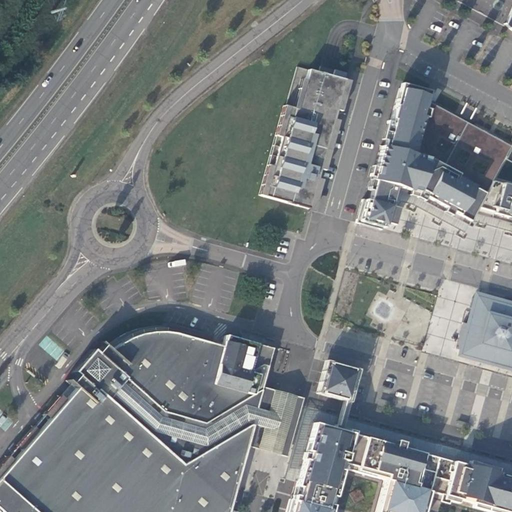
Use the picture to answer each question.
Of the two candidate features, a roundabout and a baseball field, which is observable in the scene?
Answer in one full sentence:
Of the two, only a roundabout appears.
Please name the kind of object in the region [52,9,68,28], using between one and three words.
pylon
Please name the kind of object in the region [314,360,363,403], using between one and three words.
building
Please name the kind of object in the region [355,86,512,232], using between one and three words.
building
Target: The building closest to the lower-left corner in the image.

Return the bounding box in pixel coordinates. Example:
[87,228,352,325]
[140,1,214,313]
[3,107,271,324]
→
[0,324,306,512]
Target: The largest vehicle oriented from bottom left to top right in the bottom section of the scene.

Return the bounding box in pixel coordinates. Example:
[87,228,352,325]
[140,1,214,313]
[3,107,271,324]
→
[55,350,70,367]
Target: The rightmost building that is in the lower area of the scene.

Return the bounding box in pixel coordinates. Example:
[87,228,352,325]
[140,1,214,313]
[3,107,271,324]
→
[460,290,512,371]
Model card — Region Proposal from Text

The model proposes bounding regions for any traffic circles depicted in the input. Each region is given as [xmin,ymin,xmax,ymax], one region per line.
[70,181,159,270]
